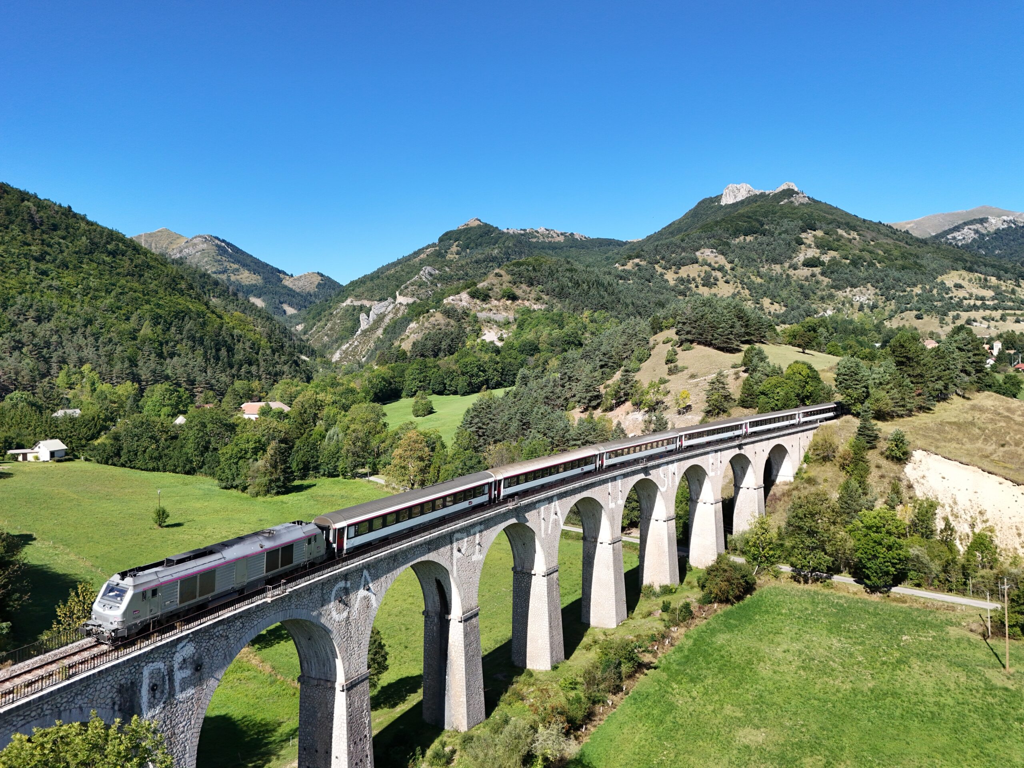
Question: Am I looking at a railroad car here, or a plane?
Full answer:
There is a railroad car in the scene.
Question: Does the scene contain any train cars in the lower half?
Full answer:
Yes, the scene does show a train car in the lower half.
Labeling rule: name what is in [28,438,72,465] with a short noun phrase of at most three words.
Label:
house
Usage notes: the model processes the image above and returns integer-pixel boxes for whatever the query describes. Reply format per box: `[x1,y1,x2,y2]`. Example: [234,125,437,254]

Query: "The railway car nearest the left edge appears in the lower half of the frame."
[79,517,330,644]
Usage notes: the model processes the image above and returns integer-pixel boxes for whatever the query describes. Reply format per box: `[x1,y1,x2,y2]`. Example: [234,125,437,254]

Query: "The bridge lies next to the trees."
[0,421,813,768]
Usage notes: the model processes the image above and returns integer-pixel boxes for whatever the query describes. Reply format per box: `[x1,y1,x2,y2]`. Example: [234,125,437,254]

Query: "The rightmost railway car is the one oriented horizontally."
[789,403,841,427]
